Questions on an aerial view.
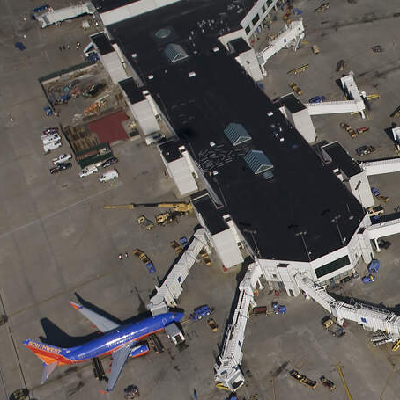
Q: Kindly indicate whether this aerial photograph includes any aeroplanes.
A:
Yes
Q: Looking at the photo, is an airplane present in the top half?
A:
No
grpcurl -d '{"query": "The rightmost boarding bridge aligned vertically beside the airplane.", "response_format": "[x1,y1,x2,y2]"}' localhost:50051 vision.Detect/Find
[222,261,263,389]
